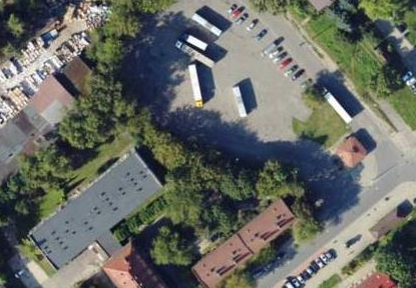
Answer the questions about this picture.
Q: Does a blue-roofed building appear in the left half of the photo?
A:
No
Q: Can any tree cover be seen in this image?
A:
Yes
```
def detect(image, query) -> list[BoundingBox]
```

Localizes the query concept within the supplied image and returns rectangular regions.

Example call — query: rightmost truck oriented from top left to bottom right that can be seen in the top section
[321,89,351,124]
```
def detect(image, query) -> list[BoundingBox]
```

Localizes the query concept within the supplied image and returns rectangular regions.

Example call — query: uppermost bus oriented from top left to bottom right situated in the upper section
[192,13,222,36]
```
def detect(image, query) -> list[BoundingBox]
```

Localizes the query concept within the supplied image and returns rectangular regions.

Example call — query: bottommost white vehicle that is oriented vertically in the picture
[233,86,246,117]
